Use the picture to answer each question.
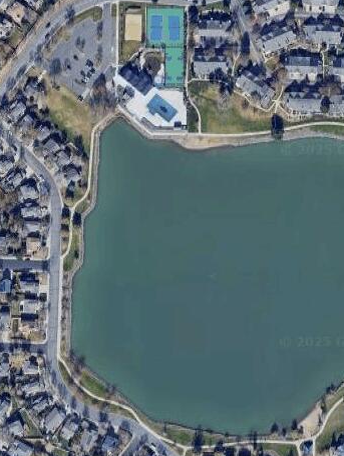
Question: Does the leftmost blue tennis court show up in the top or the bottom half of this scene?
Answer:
top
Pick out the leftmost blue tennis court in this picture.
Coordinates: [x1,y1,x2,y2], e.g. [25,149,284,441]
[147,7,166,48]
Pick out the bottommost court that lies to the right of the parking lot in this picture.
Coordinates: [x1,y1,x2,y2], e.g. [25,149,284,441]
[165,67,185,88]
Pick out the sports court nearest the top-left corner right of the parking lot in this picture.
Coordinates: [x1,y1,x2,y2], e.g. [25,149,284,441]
[125,14,142,42]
